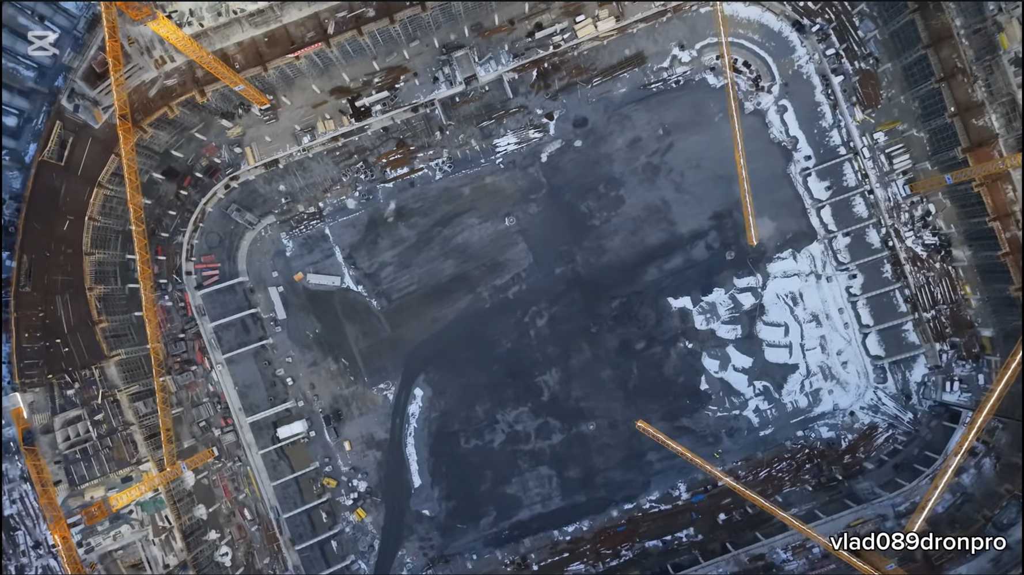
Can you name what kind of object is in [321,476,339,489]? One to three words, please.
vehicle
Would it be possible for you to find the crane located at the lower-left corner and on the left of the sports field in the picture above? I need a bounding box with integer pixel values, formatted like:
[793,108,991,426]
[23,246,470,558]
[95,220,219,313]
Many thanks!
[13,395,226,575]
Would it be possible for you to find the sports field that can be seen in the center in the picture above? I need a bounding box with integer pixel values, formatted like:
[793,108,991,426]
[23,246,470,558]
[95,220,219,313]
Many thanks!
[293,83,815,556]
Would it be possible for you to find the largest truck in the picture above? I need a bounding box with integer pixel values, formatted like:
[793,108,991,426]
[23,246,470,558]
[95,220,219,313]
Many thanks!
[273,419,311,442]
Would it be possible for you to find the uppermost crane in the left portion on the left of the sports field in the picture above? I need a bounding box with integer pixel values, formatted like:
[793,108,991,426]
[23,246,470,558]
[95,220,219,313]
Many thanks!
[106,0,278,474]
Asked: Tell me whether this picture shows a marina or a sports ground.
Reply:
sports ground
